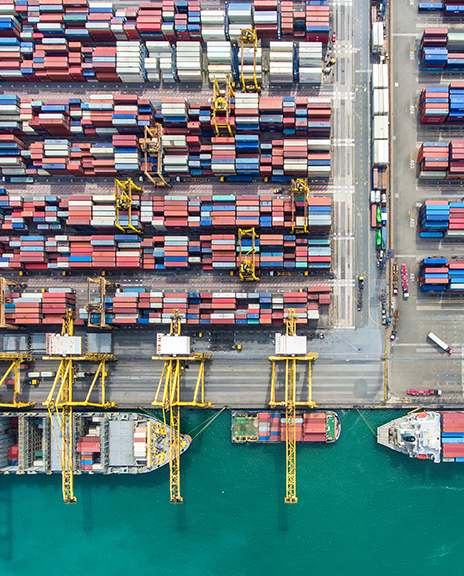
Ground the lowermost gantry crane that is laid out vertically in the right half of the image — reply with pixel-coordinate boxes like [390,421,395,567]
[266,308,319,503]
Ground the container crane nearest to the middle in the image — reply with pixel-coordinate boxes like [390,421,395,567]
[235,226,264,284]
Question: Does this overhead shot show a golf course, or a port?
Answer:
port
